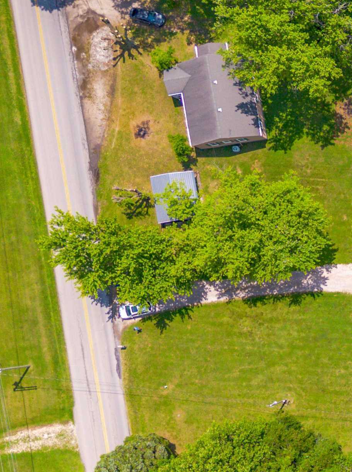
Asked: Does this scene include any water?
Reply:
No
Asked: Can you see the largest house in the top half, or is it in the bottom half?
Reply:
top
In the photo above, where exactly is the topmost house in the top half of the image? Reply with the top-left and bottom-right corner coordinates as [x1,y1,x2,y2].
[163,43,265,149]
